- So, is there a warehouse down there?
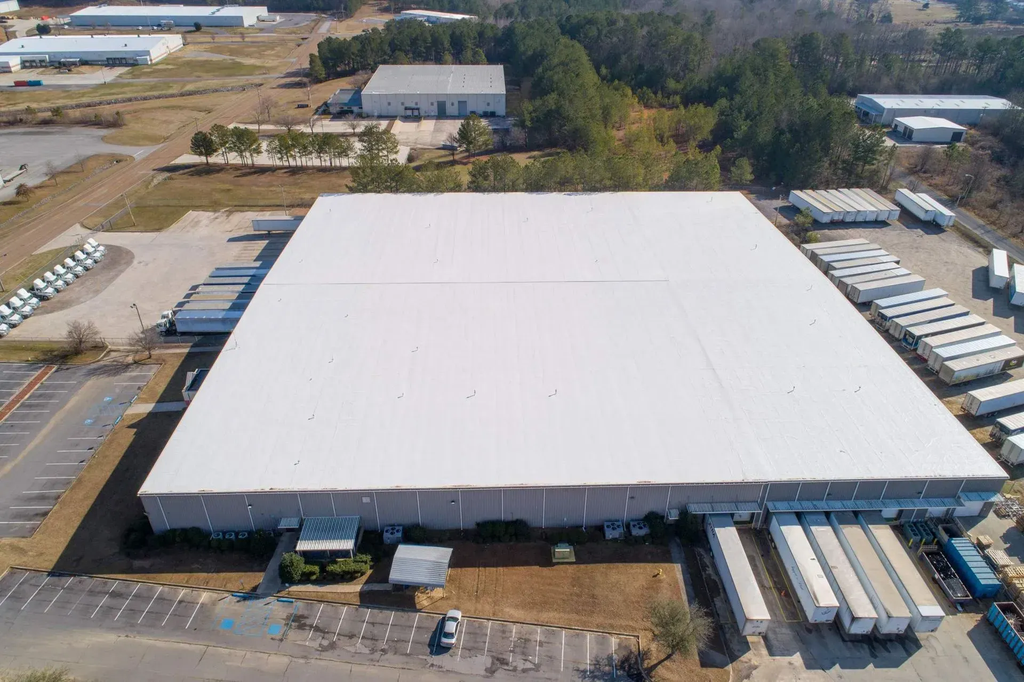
Yes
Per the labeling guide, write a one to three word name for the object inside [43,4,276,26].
building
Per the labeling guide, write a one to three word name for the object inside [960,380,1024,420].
trailer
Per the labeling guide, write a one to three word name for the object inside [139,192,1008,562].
warehouse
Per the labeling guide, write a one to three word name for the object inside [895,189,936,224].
trailer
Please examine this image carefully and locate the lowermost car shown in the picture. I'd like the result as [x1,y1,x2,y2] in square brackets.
[440,609,462,650]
